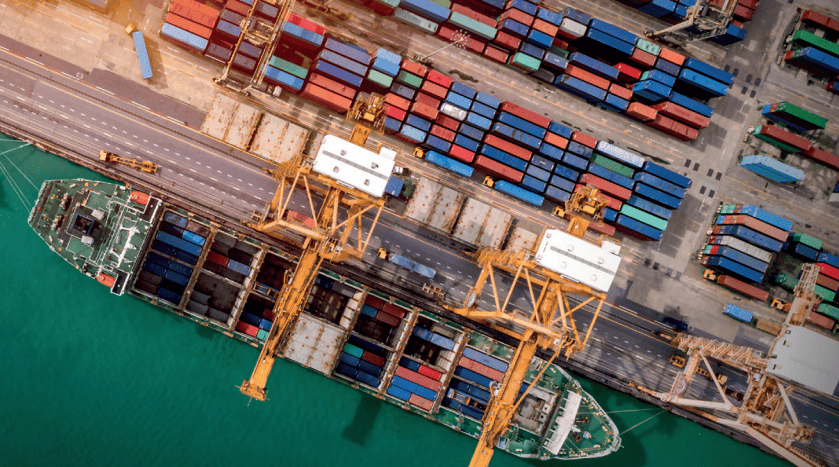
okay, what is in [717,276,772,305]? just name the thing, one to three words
shipping container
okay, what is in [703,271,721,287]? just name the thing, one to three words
vehicle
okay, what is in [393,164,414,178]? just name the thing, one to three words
vehicle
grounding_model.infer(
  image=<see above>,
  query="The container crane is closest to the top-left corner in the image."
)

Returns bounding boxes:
[210,0,290,97]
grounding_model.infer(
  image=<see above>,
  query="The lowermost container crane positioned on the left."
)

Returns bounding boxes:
[238,89,398,406]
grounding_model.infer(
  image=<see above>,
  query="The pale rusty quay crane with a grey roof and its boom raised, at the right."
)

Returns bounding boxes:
[640,261,839,467]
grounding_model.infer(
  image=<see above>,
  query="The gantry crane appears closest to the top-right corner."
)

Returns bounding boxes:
[644,0,741,50]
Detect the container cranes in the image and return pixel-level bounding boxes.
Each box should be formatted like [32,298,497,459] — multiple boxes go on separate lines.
[438,180,620,467]
[644,0,741,50]
[210,0,290,97]
[640,261,839,467]
[238,89,398,406]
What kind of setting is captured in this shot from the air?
port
